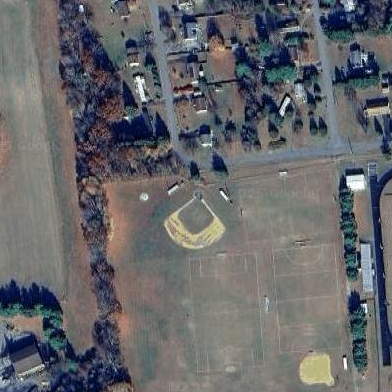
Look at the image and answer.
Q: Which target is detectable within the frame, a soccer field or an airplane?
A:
soccer field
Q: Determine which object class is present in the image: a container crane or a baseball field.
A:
baseball field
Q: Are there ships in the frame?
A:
No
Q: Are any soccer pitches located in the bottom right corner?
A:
Yes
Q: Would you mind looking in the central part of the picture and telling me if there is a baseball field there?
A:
Yes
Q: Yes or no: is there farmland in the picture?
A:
Yes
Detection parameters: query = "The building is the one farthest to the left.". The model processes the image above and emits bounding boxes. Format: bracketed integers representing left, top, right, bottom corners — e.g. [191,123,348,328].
[9,344,45,379]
